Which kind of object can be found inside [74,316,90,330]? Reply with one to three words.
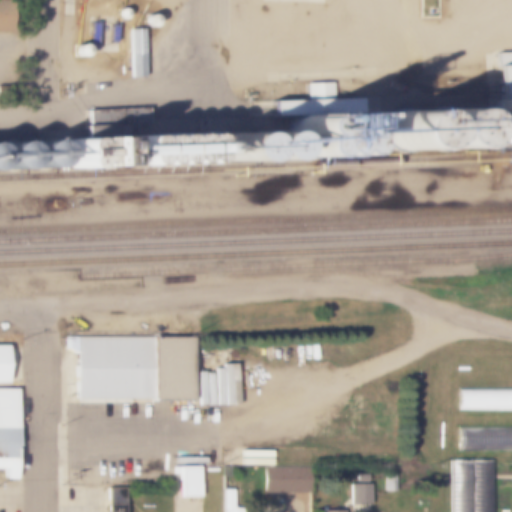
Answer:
work vehicle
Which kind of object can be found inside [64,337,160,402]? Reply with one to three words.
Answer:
building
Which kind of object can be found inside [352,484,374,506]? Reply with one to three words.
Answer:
house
